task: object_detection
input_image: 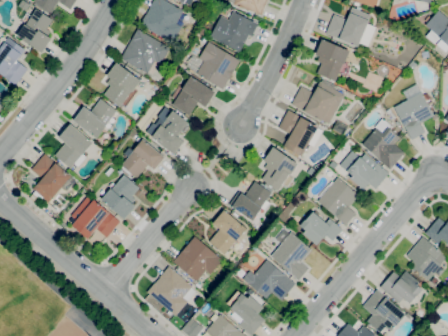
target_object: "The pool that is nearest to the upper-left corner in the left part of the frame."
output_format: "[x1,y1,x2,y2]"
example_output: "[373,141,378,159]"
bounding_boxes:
[0,0,12,26]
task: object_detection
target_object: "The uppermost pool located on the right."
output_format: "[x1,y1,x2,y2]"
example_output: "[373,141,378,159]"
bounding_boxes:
[395,2,417,18]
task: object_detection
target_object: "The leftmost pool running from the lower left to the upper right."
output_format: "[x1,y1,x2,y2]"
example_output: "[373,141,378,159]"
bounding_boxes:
[78,160,98,176]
